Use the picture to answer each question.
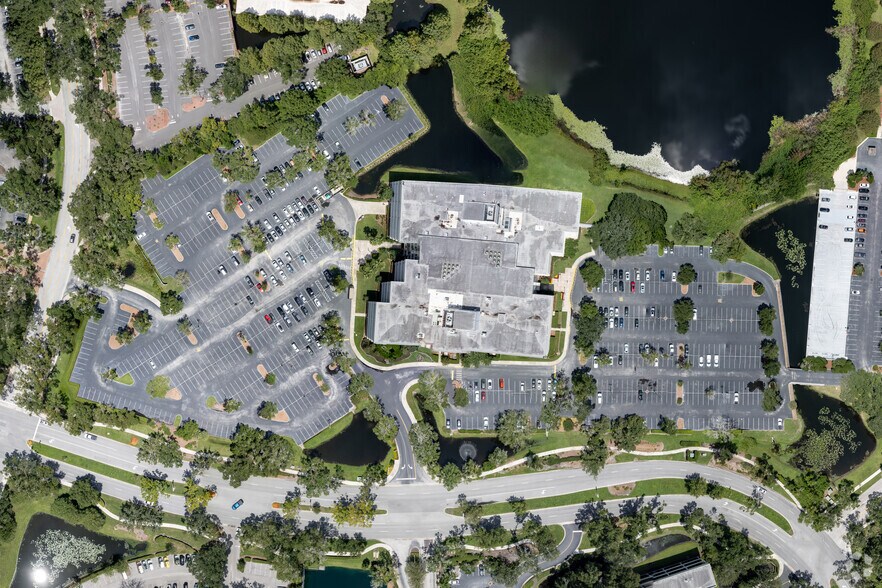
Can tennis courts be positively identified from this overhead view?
No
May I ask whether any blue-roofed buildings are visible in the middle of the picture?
No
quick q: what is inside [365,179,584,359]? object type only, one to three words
building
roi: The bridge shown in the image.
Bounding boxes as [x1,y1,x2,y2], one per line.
[789,368,844,387]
